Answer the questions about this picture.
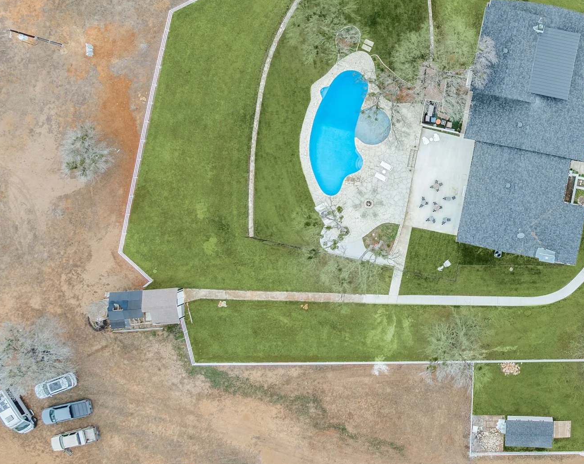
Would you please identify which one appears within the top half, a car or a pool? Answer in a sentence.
It is a pool that can be seen within the top half.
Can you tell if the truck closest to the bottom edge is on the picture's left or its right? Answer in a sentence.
The truck closest to the bottom edge sits on the left side.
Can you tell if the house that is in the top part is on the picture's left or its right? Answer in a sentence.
The house that is in the top part is on the right side of the image.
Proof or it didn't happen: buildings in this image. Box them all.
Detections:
[505,416,553,448]
[102,287,186,331]
[455,0,584,265]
